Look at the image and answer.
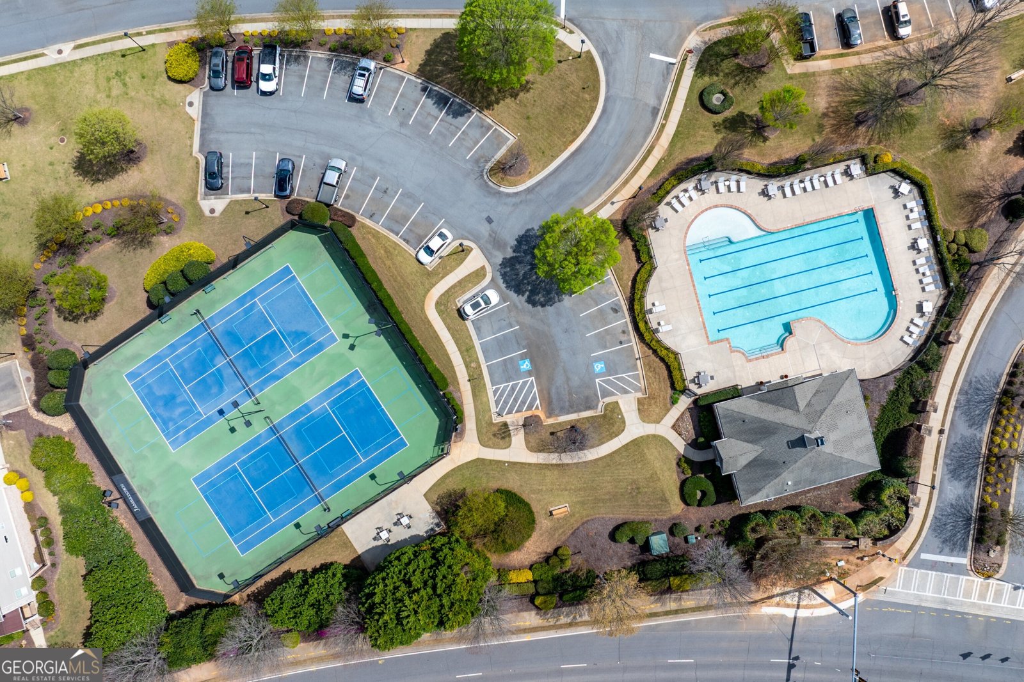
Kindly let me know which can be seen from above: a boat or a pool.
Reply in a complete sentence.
Visible in the photo is a pool.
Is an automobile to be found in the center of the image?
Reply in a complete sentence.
Yes, an automobile can be seen in the center of the image.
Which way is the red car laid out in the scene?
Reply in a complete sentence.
What the image shows is the red car lying up and down.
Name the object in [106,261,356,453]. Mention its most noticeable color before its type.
blue tennis court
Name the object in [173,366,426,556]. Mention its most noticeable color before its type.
blue tennis court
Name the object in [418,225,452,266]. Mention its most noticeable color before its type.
white car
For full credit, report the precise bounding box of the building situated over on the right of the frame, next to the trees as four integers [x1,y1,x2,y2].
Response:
[709,368,881,506]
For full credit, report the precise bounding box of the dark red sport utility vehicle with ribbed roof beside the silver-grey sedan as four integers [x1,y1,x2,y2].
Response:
[232,44,254,88]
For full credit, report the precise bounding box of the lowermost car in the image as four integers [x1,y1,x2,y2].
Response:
[459,290,499,322]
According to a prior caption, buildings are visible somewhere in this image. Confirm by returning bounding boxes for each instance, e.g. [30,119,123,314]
[0,476,51,639]
[709,368,881,506]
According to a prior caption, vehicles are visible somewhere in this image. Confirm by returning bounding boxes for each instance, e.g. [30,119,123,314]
[232,44,254,88]
[418,225,452,266]
[257,43,280,95]
[351,58,375,102]
[886,0,912,40]
[836,7,860,49]
[317,156,345,206]
[203,150,224,191]
[274,158,295,198]
[796,9,818,58]
[207,46,228,90]
[459,290,499,322]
